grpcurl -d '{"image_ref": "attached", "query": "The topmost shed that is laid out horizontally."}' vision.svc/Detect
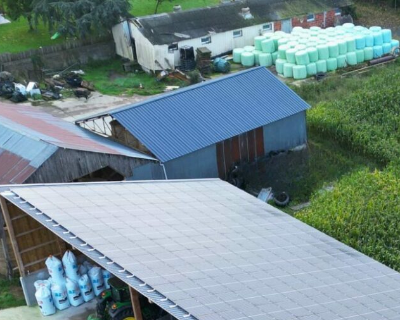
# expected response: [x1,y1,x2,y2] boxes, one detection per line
[113,0,361,72]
